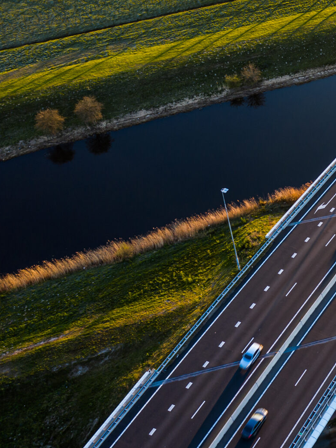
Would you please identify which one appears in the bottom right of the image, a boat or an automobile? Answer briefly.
automobile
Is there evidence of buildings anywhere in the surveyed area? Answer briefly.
No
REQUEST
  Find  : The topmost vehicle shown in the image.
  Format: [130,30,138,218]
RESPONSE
[237,342,263,370]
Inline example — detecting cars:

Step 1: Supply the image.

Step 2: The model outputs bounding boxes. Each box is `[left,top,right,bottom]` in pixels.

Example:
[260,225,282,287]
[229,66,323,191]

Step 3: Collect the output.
[240,408,270,442]
[237,342,263,370]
